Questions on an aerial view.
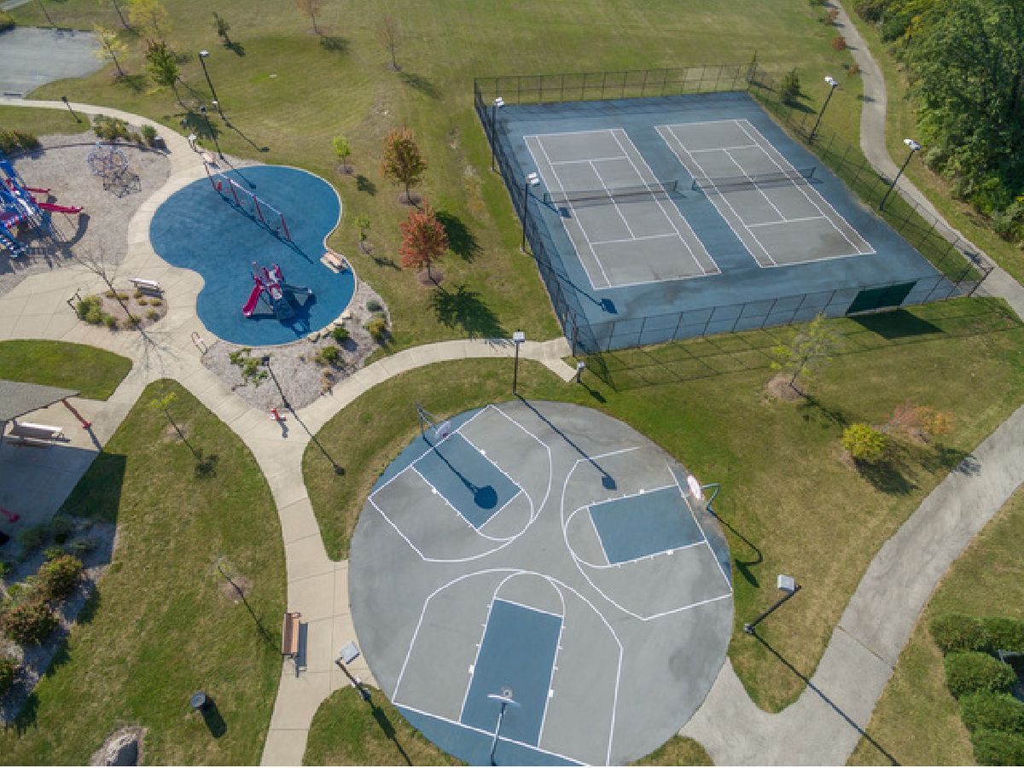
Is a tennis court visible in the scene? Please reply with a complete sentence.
Yes, there is a tennis court in the image.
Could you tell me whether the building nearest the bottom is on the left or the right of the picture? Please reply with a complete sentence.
The building nearest the bottom sits on the left side.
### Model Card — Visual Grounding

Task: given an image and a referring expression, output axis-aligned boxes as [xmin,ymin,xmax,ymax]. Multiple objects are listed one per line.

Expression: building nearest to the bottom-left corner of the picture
[0,381,90,428]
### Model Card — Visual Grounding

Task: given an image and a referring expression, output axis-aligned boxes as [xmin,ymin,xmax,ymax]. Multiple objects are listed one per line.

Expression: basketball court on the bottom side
[347,399,735,768]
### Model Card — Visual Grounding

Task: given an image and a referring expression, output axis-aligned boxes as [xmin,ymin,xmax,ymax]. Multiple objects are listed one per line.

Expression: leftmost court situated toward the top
[477,98,780,355]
